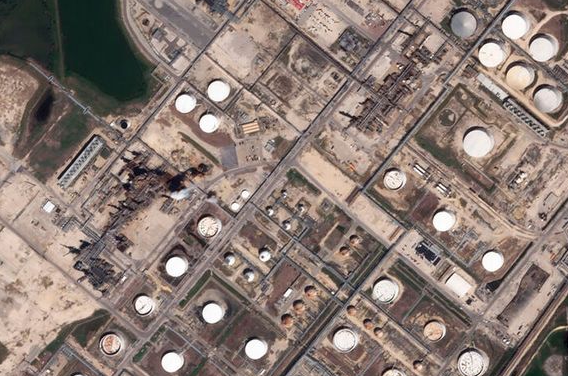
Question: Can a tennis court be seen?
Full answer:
No, there is no tennis court in the image.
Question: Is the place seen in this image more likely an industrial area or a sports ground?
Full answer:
This looks like an industrial area.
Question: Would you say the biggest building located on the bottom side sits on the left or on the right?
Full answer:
The biggest building located on the bottom side is on the right side of the image.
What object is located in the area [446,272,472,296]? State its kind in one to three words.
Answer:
building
